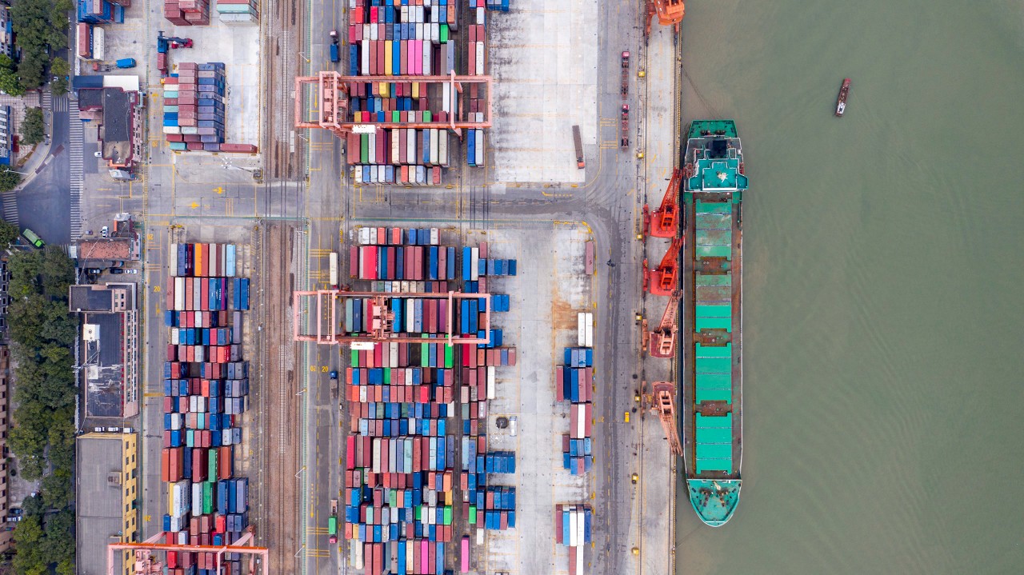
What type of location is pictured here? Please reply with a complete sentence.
What you see here is a port.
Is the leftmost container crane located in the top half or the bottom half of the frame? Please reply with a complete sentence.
The leftmost container crane is in the bottom half of the image.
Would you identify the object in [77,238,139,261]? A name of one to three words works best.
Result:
building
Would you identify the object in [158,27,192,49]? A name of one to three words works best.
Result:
work vehicle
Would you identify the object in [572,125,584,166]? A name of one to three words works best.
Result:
vehicle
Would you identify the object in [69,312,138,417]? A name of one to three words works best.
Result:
building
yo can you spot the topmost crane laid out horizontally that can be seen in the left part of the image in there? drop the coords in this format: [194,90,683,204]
[296,70,492,149]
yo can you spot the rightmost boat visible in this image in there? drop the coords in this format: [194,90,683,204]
[834,79,850,116]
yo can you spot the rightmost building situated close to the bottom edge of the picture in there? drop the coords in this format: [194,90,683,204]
[76,432,140,575]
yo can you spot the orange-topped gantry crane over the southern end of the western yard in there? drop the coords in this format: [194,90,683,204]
[108,521,271,575]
